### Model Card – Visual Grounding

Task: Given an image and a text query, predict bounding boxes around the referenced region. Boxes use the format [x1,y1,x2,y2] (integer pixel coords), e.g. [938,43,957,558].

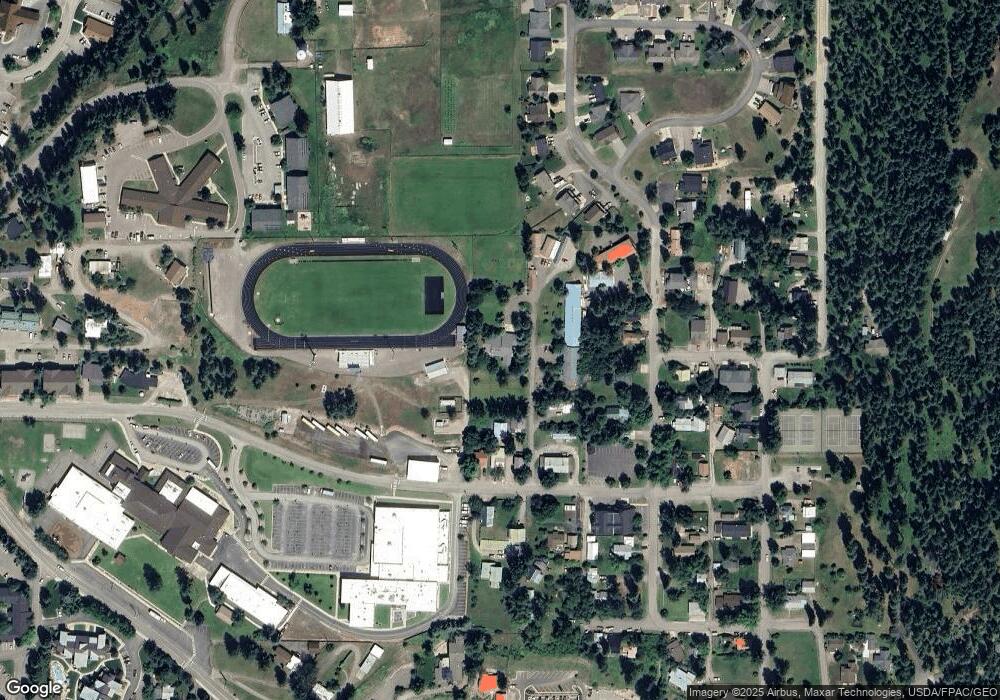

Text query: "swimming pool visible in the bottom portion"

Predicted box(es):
[50,660,64,681]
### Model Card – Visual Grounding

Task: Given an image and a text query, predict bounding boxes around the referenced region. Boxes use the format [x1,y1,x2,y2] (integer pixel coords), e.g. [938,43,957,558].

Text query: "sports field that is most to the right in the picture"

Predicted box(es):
[388,157,520,236]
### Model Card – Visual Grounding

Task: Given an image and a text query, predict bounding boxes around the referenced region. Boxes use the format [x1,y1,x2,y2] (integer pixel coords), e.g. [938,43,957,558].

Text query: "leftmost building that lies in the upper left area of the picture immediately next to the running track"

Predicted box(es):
[117,151,229,227]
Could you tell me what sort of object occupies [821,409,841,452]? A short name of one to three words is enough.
tennis court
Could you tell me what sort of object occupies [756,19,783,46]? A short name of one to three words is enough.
house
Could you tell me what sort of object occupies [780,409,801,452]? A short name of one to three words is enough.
tennis court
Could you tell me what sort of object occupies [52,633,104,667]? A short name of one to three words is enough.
building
